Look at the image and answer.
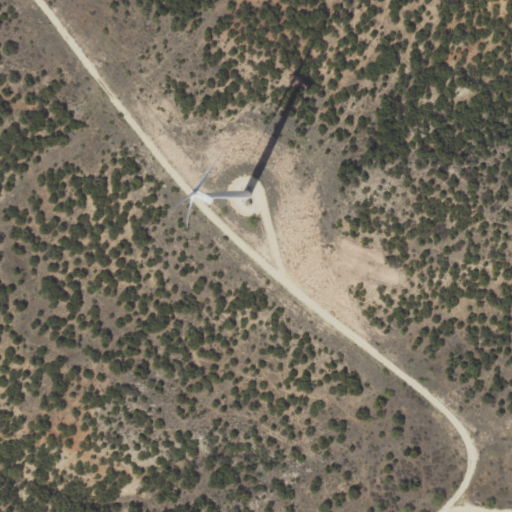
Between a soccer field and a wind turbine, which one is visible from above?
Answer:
wind turbine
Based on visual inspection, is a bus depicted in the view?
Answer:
No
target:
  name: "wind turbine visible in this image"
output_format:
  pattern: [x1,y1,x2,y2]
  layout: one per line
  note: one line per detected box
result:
[168,137,254,226]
